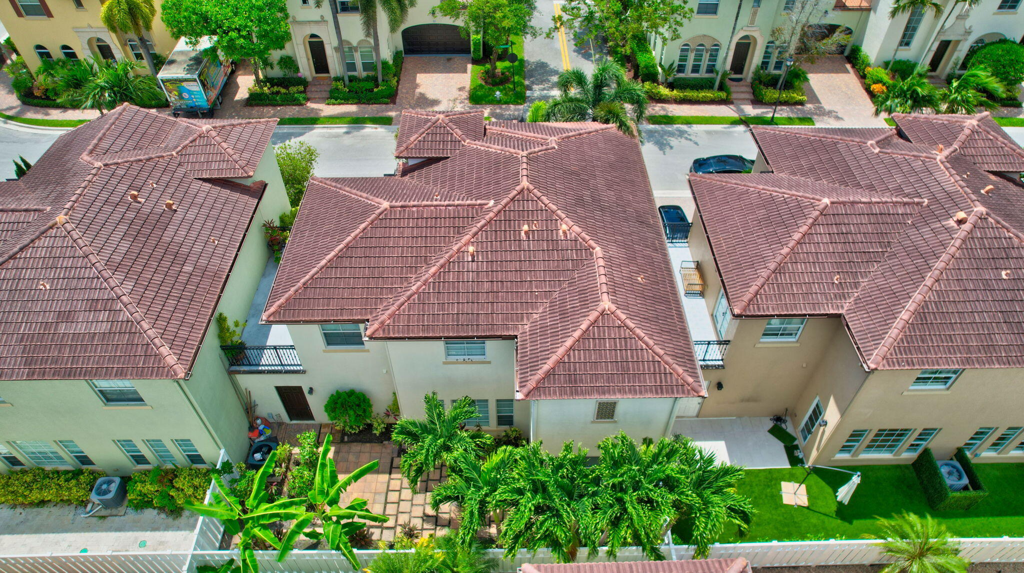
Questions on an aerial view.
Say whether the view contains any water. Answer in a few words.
No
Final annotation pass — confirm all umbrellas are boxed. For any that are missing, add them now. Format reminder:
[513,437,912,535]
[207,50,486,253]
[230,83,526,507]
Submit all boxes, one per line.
[780,461,857,508]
